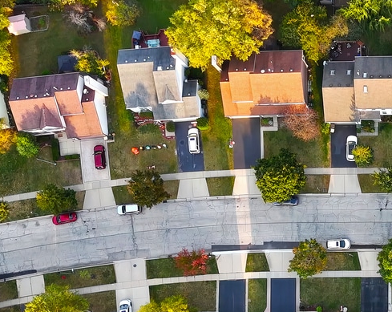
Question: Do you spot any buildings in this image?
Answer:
Yes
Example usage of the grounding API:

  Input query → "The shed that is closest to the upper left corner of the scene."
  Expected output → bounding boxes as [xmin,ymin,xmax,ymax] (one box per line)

[6,14,35,37]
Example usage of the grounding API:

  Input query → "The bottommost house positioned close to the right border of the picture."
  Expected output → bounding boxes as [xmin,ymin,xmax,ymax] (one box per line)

[320,56,392,124]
